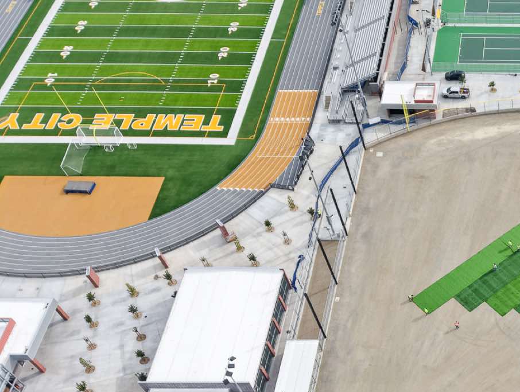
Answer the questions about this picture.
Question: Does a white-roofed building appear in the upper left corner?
No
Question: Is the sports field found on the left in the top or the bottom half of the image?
top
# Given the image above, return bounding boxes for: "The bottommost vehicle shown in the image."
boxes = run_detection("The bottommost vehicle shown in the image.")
[444,85,472,98]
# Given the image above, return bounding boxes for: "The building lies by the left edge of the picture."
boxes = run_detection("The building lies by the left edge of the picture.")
[0,299,70,381]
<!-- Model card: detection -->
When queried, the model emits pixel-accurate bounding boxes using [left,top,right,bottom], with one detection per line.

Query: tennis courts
[440,0,520,24]
[432,26,520,76]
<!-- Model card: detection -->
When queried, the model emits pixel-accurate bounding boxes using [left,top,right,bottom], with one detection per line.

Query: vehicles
[443,68,466,79]
[444,85,472,98]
